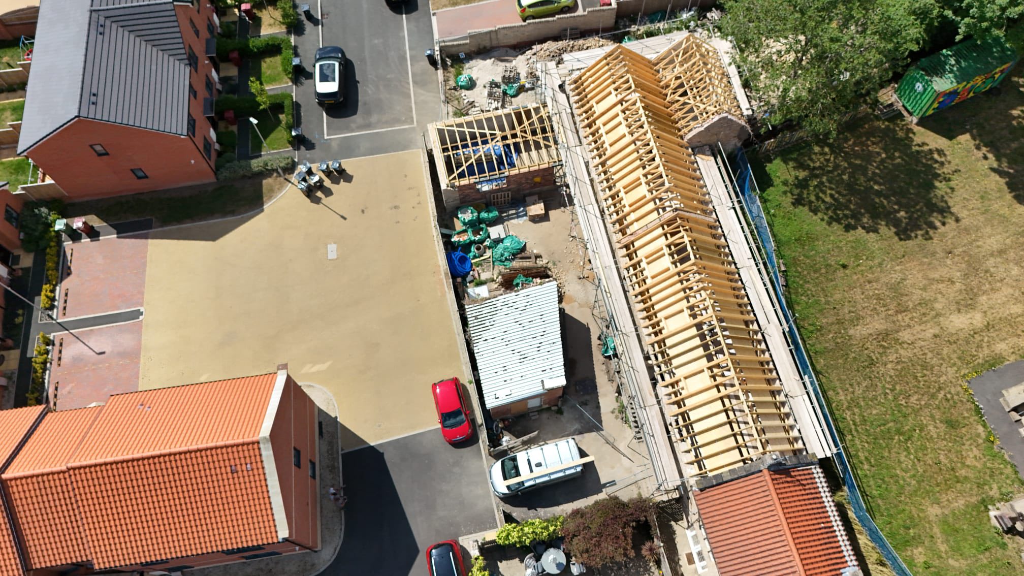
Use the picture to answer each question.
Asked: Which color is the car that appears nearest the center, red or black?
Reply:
red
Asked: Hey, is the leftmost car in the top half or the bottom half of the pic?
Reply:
top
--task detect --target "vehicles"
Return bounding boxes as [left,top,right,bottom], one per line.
[428,537,469,576]
[313,51,348,104]
[490,446,591,504]
[429,374,474,449]
[518,0,571,17]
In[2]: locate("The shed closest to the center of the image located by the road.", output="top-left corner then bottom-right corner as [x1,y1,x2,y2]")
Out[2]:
[466,282,566,415]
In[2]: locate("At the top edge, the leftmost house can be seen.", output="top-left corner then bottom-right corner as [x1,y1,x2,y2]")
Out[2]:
[13,0,224,201]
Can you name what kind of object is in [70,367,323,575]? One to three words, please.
house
